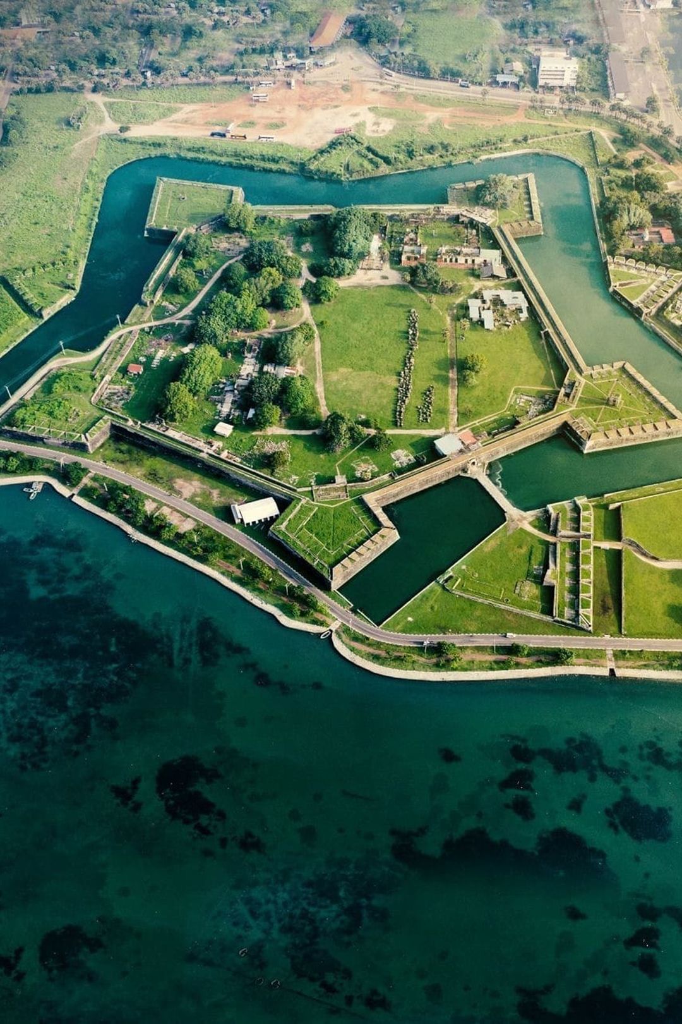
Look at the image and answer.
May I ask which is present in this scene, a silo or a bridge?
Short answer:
bridge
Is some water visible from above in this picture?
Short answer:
Yes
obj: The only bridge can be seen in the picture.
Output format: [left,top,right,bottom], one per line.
[464,469,529,524]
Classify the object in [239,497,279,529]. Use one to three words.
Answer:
shed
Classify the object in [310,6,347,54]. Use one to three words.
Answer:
building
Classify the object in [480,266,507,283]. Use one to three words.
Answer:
house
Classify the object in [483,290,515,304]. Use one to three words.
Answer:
shed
